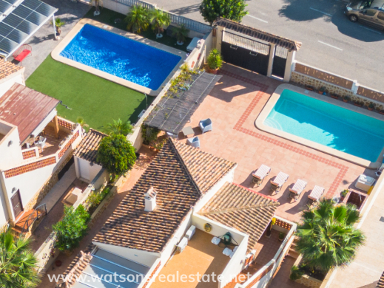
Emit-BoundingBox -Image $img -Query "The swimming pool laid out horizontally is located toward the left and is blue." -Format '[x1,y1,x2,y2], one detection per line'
[49,18,183,94]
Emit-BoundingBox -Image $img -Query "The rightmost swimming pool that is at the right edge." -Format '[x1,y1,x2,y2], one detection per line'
[254,82,384,171]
